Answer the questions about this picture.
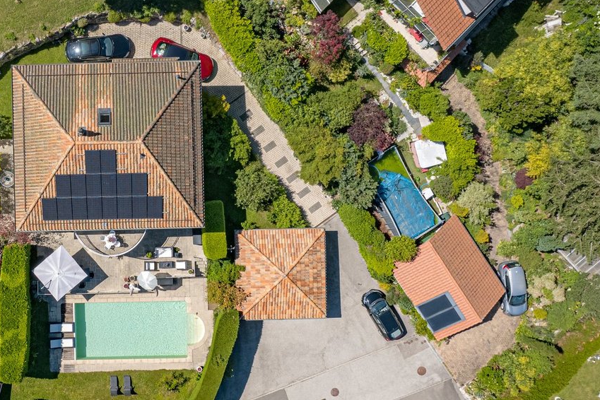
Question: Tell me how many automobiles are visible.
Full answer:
The number of automobiles here is 4.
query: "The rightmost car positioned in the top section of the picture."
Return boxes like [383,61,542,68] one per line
[150,38,214,78]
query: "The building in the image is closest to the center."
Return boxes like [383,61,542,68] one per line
[234,228,329,322]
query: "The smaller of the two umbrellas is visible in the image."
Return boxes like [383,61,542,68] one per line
[138,270,157,288]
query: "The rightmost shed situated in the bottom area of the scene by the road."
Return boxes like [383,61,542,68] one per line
[387,217,506,340]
